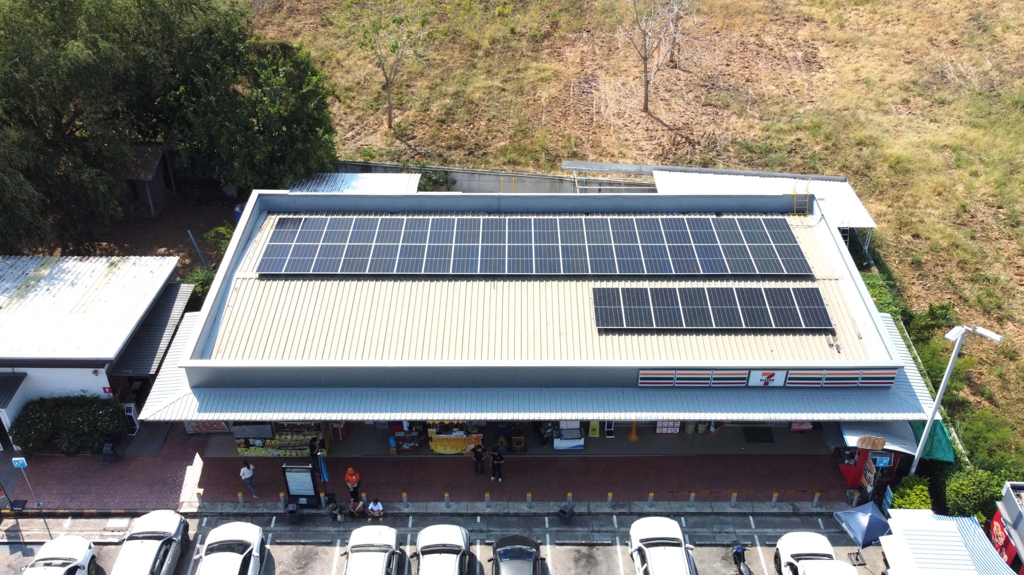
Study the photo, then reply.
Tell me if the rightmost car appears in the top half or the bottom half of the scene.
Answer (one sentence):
You can find the rightmost car in the bottom half.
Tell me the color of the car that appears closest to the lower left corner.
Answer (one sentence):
The color of the car that appears closest to the lower left corner is white.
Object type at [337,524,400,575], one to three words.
car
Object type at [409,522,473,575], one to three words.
car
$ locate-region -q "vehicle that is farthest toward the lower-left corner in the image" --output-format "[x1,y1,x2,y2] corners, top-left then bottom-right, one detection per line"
[17,534,91,575]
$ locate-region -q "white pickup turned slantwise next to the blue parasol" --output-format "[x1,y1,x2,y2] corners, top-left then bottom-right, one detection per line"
[782,531,855,575]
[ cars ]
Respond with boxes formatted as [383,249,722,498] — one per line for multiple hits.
[630,516,697,575]
[485,534,548,575]
[105,510,184,575]
[337,524,400,575]
[782,531,855,575]
[409,522,473,575]
[192,521,259,575]
[17,534,91,575]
